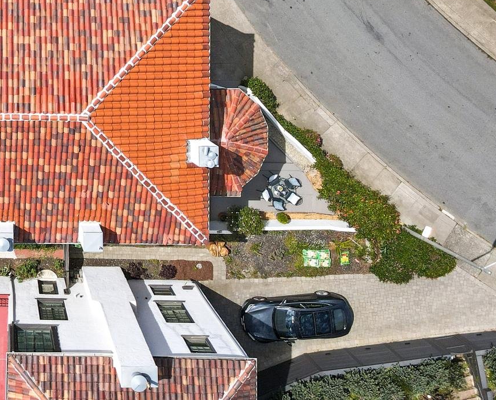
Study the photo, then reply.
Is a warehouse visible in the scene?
No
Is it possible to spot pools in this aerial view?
No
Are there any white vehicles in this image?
No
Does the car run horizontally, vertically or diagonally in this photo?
horizontally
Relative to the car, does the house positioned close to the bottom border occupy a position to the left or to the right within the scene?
left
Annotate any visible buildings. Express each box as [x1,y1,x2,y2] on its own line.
[4,267,261,400]
[0,0,271,253]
